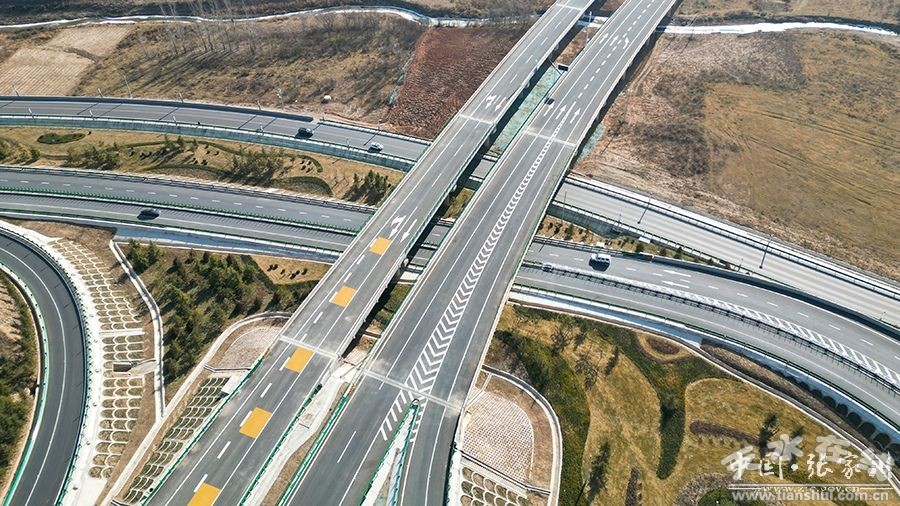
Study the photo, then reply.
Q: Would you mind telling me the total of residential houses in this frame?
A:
0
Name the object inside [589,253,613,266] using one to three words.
vehicle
